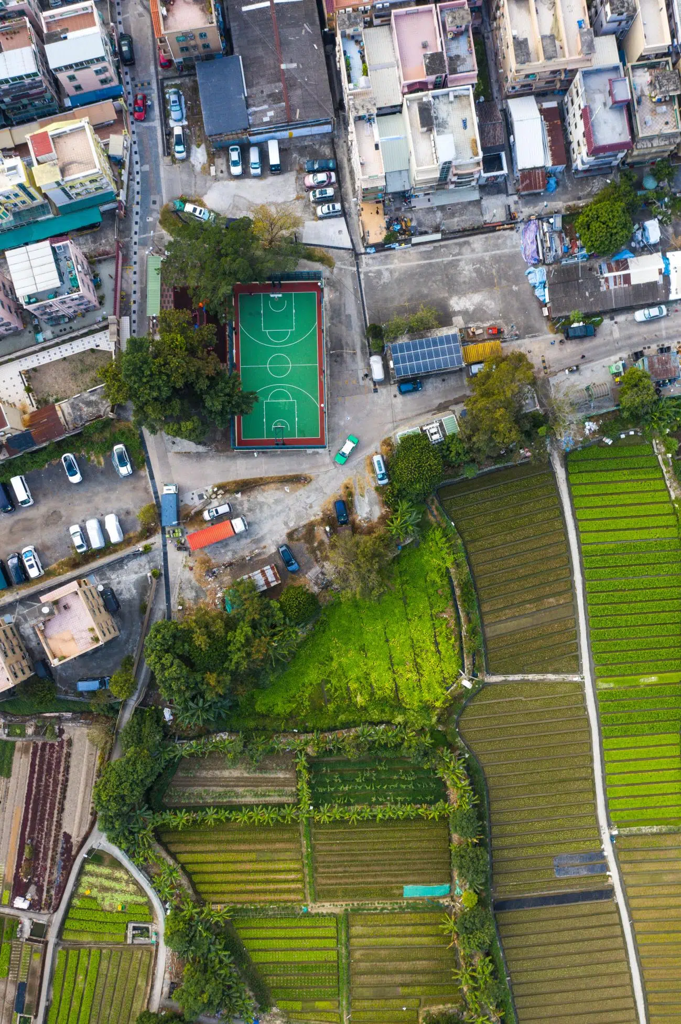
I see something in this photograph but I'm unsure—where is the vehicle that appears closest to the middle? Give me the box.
[334,498,349,526]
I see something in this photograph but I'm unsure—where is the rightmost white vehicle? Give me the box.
[633,306,667,322]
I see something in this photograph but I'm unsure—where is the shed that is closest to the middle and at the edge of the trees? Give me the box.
[239,563,283,592]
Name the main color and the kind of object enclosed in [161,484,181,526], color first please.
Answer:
blue vehicle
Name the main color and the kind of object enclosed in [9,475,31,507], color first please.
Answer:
white car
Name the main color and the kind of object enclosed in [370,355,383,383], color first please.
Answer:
white vehicle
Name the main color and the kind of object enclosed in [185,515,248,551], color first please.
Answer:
red truck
